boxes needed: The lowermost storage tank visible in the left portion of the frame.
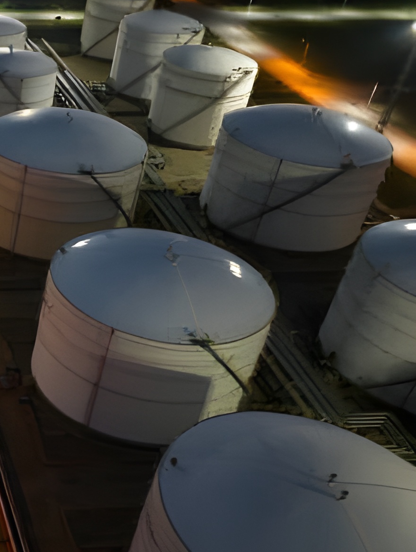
[28,225,277,447]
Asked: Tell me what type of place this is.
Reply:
industrial area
